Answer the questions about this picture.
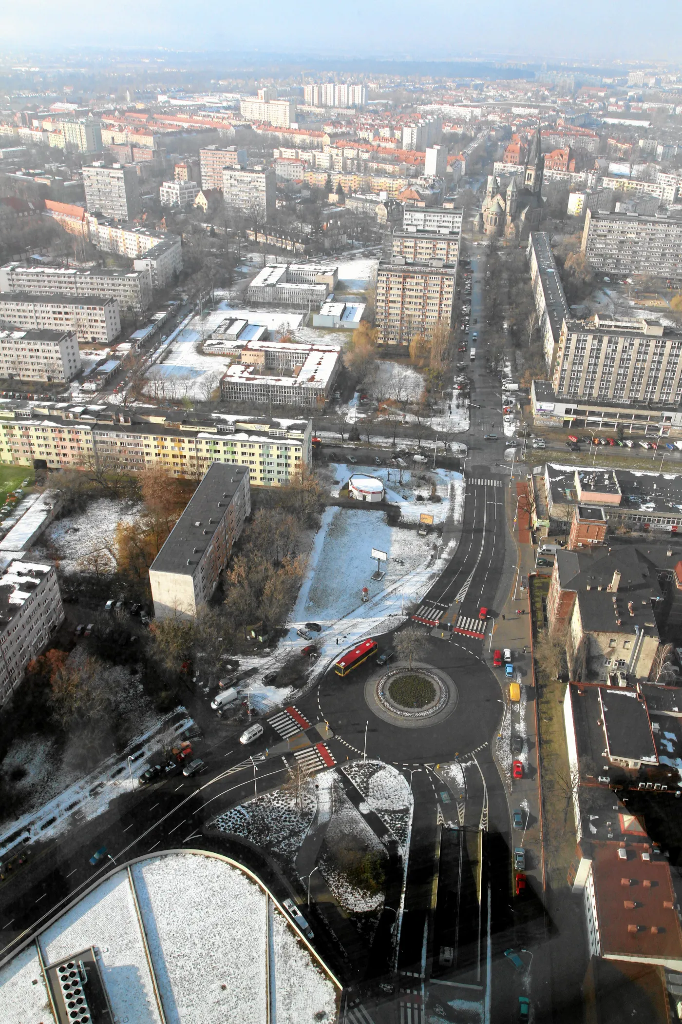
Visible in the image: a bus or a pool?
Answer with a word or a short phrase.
bus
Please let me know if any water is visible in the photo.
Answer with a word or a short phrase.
No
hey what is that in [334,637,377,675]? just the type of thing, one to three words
bus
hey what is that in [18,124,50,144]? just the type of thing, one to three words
house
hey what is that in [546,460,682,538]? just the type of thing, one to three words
building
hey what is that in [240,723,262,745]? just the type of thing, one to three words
vehicle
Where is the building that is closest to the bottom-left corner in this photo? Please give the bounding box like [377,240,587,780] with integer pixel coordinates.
[0,849,343,1024]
